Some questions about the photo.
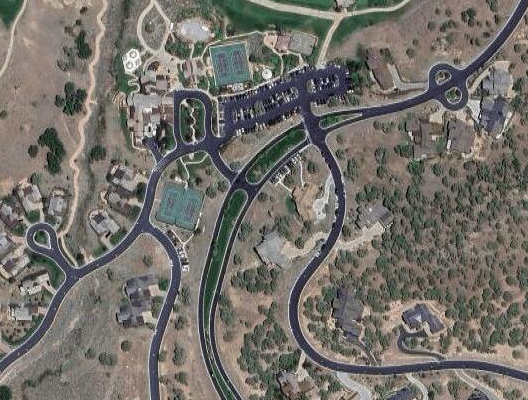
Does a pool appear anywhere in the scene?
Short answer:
Yes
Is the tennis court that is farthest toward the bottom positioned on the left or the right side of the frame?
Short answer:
left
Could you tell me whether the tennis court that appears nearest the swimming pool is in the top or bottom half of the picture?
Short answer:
top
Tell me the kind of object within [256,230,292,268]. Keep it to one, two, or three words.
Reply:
house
